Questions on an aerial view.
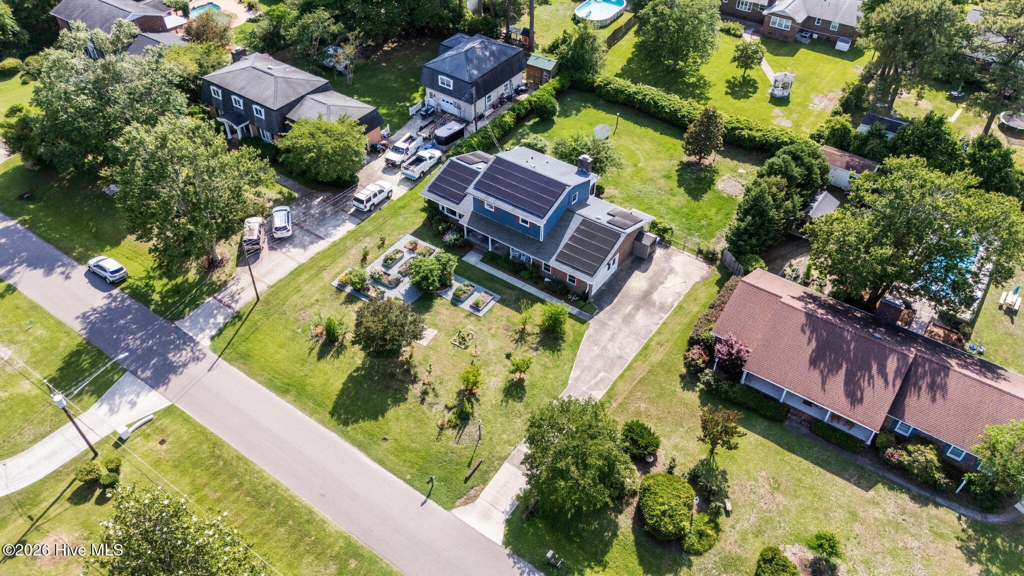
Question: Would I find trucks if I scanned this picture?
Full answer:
Yes, the frame does contain a truck.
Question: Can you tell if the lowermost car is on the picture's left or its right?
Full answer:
The lowermost car appears in the left half of the scene.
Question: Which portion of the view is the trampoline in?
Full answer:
You can find the trampoline in the top right area of the picture.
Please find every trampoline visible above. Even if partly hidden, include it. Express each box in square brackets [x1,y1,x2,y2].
[996,111,1024,132]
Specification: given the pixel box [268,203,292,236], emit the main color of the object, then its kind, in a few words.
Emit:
white car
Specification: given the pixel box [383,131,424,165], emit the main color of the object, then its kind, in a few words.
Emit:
white truck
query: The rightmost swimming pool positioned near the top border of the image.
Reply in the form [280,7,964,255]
[573,0,625,26]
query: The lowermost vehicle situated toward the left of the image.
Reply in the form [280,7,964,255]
[84,252,127,283]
